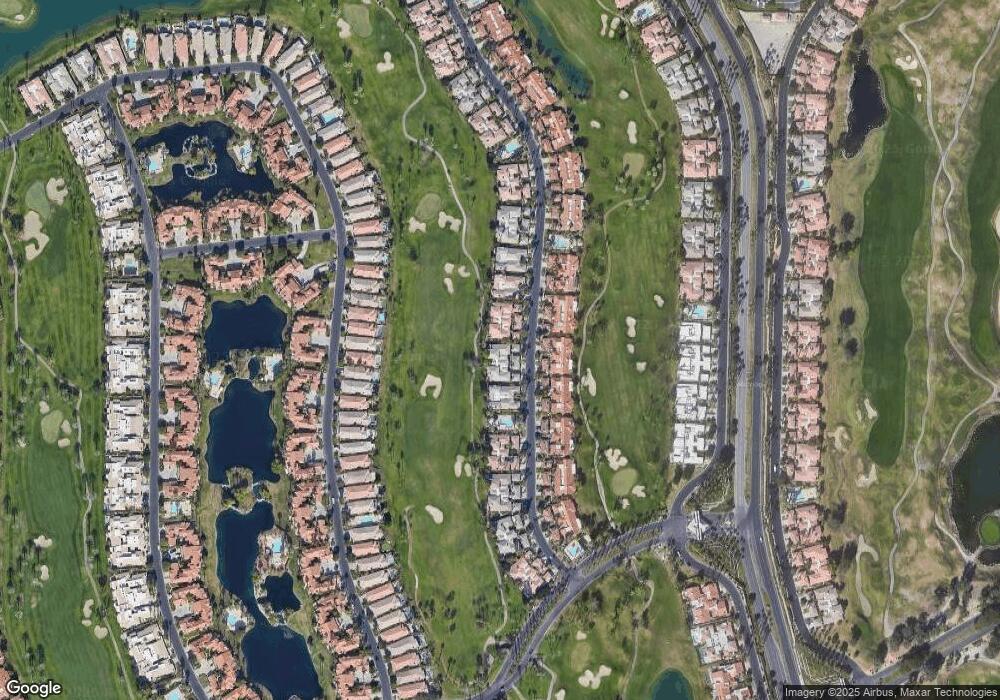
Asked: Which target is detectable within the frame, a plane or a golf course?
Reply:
golf course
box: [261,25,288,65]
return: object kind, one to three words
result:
house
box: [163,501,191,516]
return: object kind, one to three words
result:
swimming pool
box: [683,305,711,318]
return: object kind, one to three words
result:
swimming pool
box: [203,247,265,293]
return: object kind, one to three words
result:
house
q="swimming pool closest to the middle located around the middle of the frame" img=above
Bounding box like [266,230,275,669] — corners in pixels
[497,414,515,430]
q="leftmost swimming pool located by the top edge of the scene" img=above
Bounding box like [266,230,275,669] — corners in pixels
[117,32,145,52]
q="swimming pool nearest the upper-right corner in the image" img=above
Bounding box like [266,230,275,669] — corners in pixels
[797,175,819,191]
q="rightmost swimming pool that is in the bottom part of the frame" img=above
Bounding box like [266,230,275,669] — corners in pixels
[787,486,818,504]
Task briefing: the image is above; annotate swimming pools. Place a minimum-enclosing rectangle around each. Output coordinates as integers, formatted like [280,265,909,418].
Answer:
[562,540,584,560]
[787,486,818,504]
[163,501,191,516]
[550,234,576,250]
[502,139,521,157]
[797,175,819,191]
[351,514,382,526]
[464,0,485,11]
[235,141,252,169]
[227,608,246,631]
[205,371,224,397]
[149,145,167,173]
[265,354,282,380]
[161,683,186,700]
[683,305,711,318]
[117,32,145,52]
[628,0,657,26]
[497,414,515,430]
[122,253,138,275]
[317,108,342,126]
